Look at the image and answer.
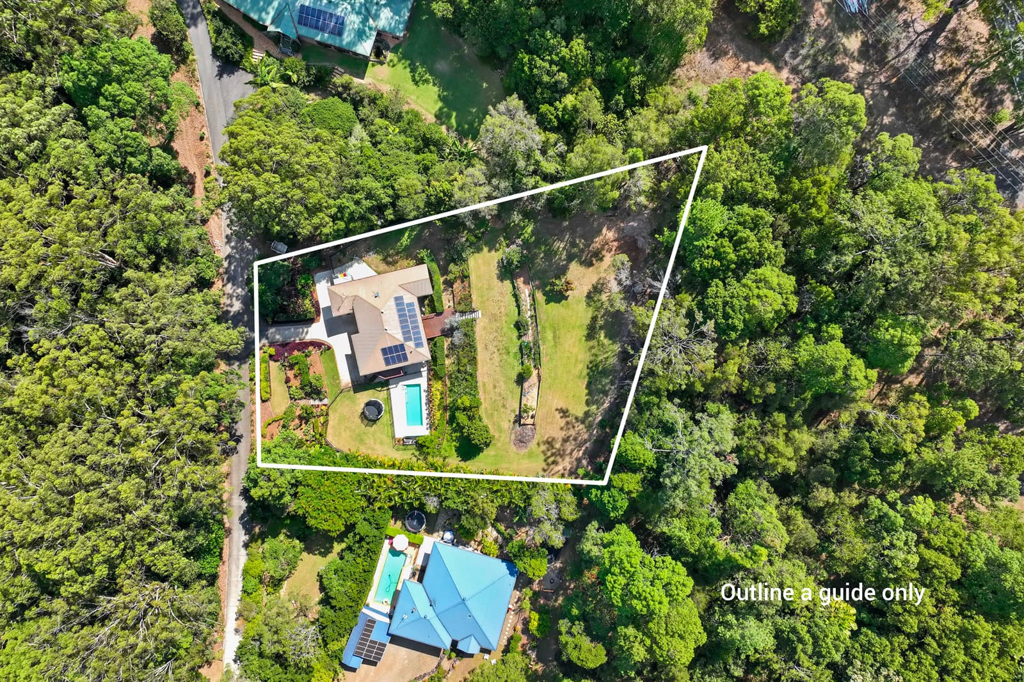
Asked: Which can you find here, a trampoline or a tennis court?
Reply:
trampoline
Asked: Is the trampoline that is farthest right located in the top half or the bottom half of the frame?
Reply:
bottom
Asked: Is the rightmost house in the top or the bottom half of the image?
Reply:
bottom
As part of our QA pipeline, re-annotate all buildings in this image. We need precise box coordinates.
[327,264,433,381]
[388,541,519,655]
[225,0,414,59]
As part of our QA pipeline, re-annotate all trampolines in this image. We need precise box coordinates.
[361,401,383,421]
[404,511,425,534]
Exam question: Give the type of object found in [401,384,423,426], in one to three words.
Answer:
swimming pool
